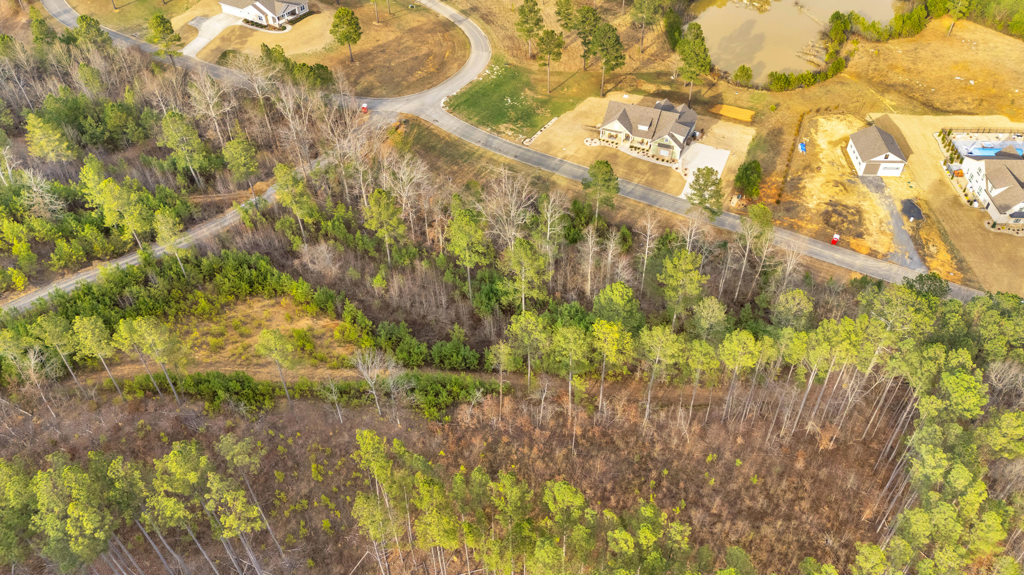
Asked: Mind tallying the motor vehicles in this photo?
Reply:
0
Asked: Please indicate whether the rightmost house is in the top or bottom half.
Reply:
top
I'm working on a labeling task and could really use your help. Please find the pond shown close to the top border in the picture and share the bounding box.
[685,0,905,83]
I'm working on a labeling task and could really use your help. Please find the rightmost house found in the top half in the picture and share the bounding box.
[956,144,1024,224]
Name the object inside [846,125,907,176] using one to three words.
building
